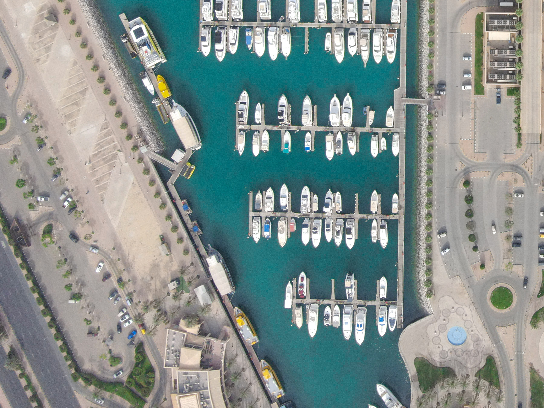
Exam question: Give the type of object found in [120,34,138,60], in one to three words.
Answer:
ship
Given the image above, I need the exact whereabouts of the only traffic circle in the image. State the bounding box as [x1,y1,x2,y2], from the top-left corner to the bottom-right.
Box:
[486,282,517,313]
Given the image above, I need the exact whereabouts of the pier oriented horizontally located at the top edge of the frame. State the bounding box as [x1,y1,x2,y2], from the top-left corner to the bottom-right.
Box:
[199,0,400,55]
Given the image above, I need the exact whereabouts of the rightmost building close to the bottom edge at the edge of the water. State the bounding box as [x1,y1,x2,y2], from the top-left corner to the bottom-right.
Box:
[164,320,232,408]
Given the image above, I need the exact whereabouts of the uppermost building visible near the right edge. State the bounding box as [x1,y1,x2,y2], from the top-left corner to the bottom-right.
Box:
[484,12,520,86]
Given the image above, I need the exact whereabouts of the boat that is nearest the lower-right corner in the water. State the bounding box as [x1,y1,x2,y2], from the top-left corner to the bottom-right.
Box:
[377,384,403,408]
